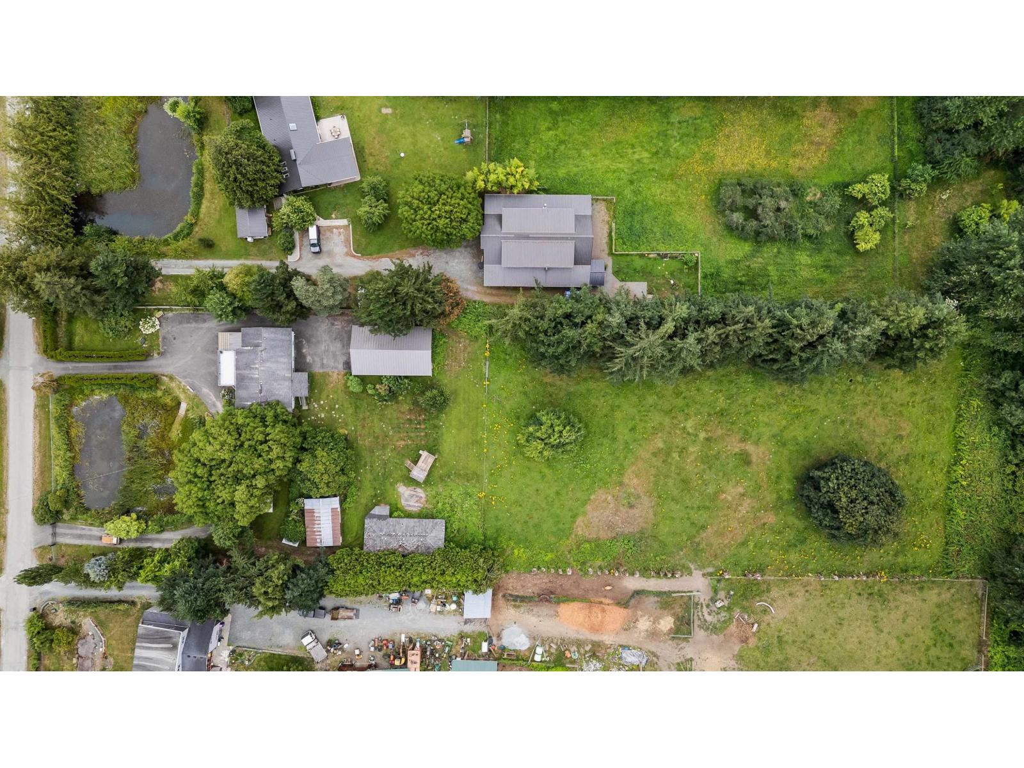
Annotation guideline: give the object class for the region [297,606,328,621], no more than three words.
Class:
vehicle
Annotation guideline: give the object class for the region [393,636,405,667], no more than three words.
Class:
vehicle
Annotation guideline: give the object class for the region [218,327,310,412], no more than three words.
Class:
house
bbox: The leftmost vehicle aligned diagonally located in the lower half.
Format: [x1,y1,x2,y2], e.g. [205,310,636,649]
[301,631,327,665]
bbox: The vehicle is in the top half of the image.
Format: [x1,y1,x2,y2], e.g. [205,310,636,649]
[306,225,320,255]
